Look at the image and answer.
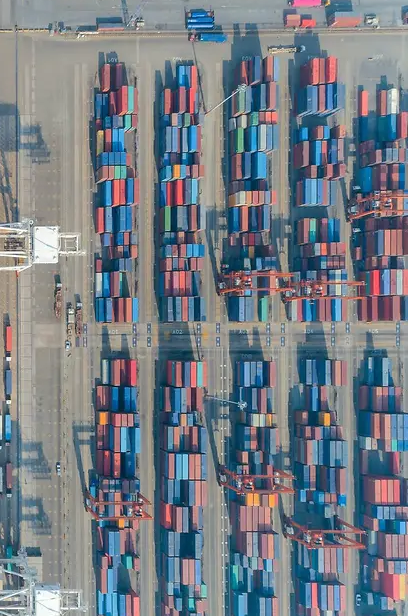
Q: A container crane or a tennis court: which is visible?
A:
container crane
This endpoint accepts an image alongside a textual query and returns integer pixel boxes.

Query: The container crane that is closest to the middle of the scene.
[213,271,295,294]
